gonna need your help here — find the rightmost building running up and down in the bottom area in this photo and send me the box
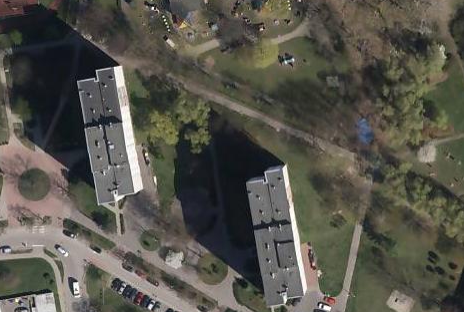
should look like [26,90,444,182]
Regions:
[245,163,308,308]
